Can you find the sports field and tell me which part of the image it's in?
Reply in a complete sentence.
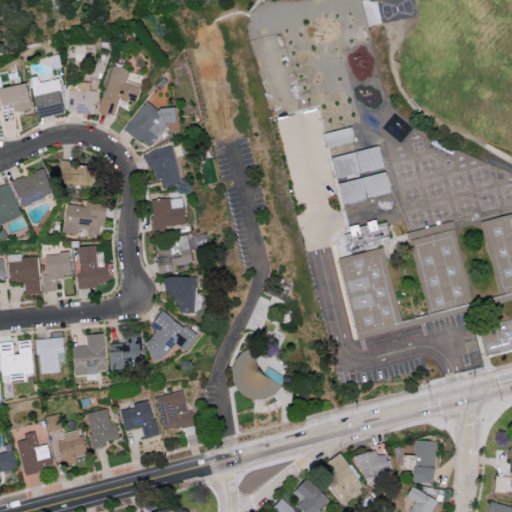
Look in the top right portion of the view to spot the sports field.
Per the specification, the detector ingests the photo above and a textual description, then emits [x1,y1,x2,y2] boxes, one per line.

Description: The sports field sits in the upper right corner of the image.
[397,0,512,156]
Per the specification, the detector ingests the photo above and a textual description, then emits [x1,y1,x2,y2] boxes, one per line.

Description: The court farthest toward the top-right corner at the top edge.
[380,0,416,22]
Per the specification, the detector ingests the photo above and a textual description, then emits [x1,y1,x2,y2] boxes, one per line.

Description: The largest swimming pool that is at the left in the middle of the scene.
[28,204,50,224]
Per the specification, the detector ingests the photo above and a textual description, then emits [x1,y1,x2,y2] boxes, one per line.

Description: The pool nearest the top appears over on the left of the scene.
[31,64,52,76]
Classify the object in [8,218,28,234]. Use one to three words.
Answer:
swimming pool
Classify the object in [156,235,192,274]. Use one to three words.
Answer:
house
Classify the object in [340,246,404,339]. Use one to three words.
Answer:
building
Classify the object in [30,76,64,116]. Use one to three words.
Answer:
house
